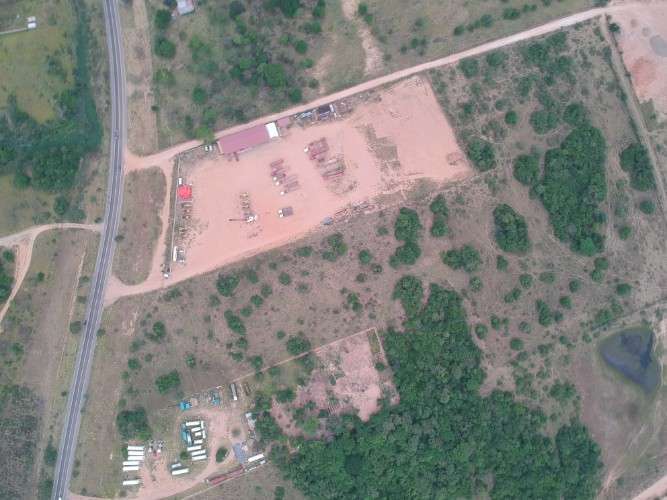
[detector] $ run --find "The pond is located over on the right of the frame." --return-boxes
[600,329,660,392]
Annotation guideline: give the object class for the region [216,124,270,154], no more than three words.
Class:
building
